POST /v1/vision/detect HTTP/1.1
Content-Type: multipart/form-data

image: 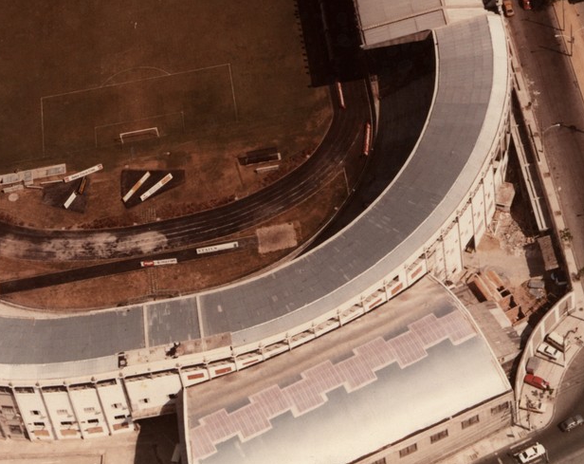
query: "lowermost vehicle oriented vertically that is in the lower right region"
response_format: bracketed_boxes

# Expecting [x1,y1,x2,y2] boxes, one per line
[527,347,541,372]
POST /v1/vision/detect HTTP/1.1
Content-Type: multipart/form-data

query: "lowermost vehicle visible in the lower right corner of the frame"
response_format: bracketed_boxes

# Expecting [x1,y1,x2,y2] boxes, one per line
[518,442,545,463]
